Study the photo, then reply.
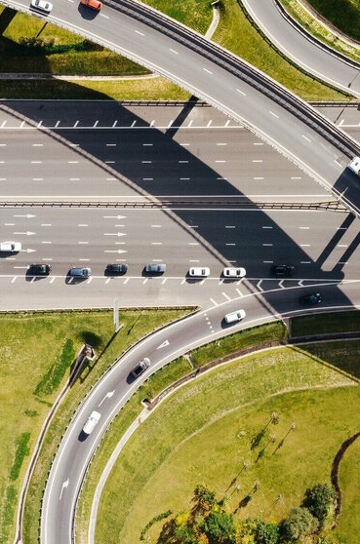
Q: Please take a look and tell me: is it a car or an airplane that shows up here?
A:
car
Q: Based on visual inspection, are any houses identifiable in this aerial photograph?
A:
No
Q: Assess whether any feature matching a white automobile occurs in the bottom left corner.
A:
Yes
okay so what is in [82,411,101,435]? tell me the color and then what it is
white car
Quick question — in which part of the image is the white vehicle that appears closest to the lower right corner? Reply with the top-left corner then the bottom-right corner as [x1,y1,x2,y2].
[223,311,247,325]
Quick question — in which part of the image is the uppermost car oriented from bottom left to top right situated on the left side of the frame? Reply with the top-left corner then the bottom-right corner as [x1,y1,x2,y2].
[129,357,151,379]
